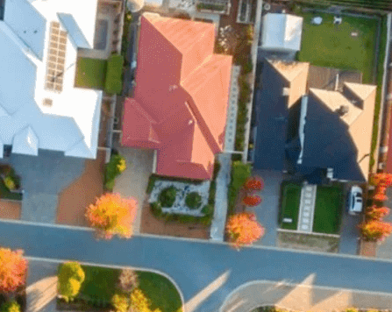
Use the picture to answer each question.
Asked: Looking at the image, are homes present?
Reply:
Yes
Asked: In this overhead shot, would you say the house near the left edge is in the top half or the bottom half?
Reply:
top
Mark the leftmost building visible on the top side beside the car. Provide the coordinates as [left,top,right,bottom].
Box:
[250,56,377,183]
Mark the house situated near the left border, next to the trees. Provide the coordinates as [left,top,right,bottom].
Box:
[0,0,103,161]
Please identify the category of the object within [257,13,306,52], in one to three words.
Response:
shed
